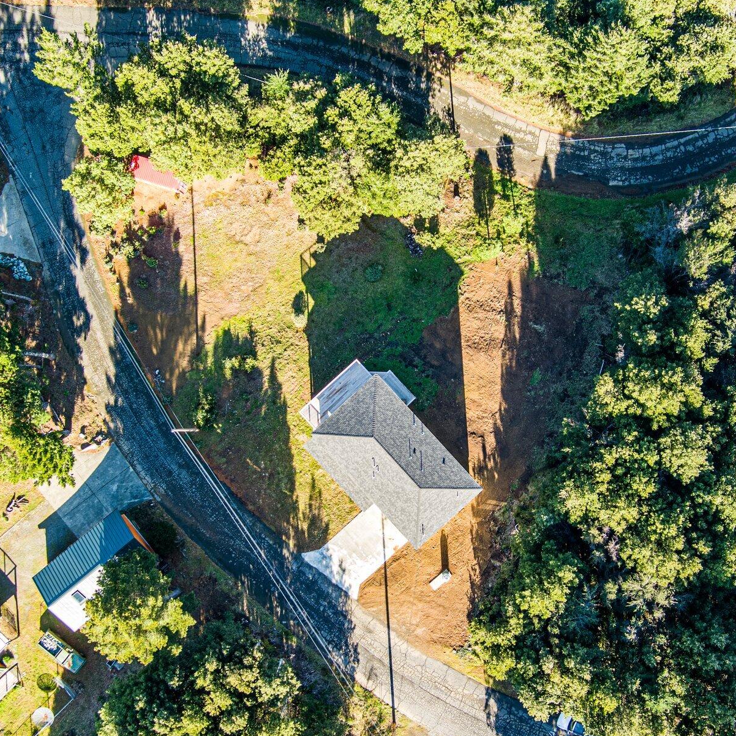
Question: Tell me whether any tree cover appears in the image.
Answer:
Yes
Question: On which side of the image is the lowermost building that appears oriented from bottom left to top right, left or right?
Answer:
left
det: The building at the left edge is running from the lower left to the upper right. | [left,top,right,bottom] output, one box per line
[32,512,153,620]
